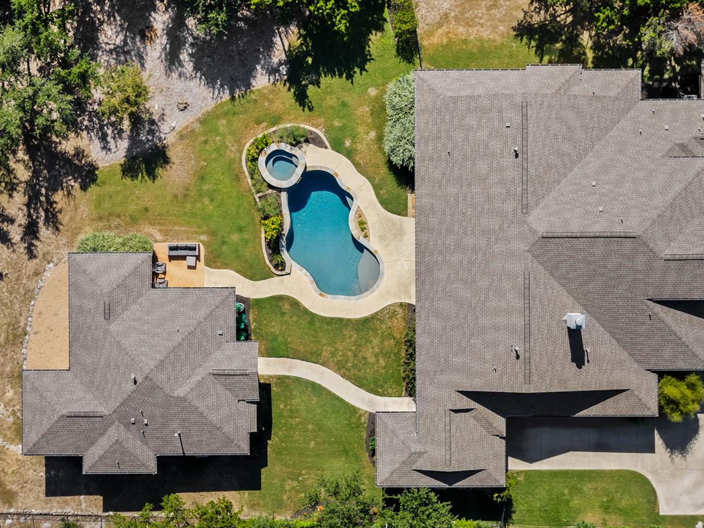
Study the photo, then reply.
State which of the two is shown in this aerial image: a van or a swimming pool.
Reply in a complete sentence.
Of the two, only a swimming pool appears.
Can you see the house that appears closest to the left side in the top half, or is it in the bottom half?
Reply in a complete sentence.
The bottom half of the photo is where the house that appears closest to the left side is.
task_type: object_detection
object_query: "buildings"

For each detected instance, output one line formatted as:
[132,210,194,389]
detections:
[375,56,704,489]
[20,252,260,476]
